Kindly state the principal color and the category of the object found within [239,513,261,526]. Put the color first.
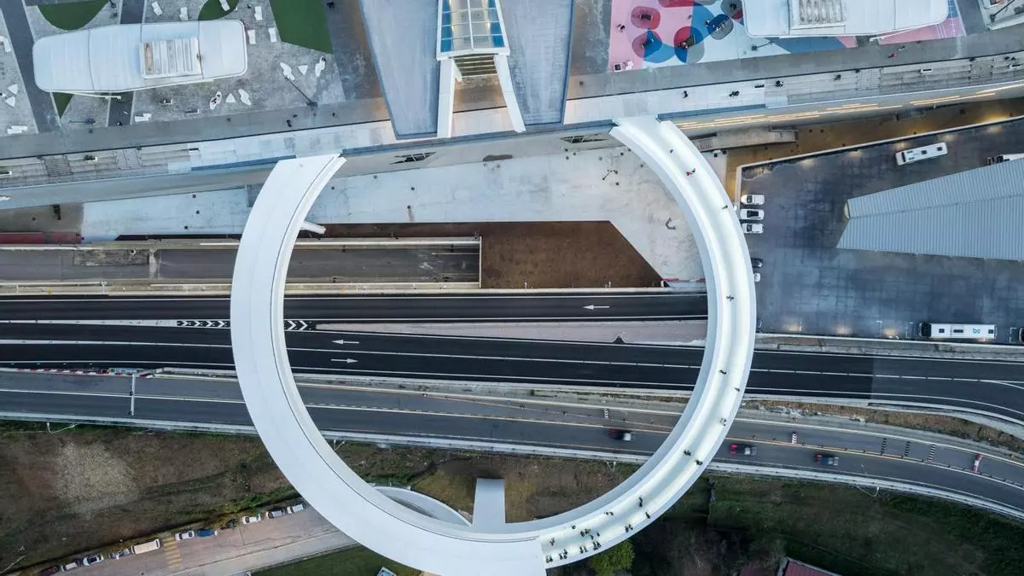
white vehicle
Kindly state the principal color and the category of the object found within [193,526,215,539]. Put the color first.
blue vehicle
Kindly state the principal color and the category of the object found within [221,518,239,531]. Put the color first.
black vehicle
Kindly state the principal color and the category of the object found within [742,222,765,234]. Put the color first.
white vehicle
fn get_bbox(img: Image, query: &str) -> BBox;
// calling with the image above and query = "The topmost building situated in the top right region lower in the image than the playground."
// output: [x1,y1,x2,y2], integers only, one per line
[690,126,800,153]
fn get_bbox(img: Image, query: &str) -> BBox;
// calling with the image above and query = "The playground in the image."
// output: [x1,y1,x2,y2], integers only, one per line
[608,0,857,72]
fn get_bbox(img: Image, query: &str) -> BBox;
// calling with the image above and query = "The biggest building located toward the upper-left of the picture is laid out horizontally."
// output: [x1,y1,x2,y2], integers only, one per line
[32,18,248,99]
